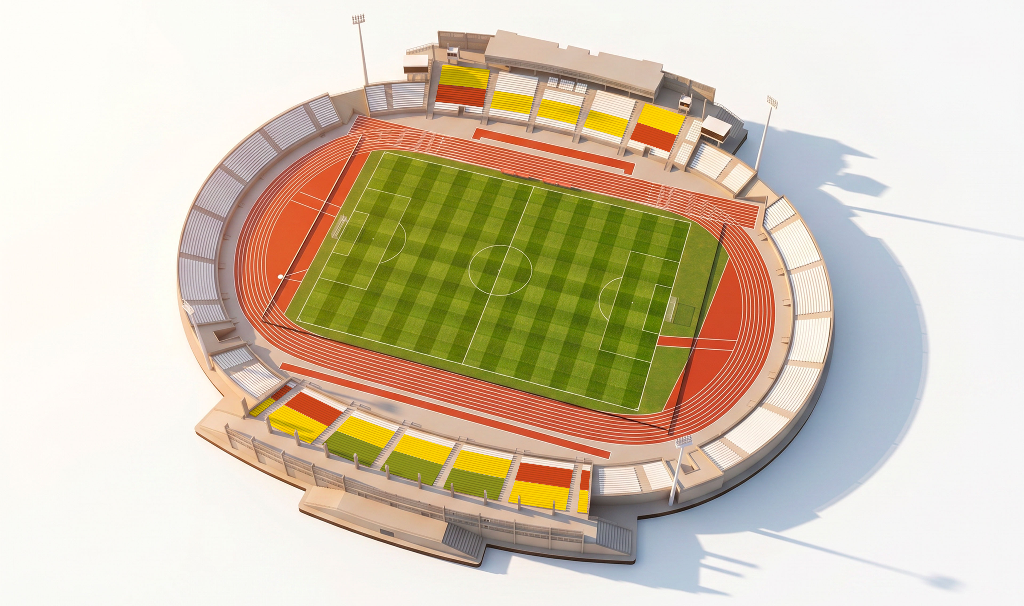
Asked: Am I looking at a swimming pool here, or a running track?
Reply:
running track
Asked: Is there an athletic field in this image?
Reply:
Yes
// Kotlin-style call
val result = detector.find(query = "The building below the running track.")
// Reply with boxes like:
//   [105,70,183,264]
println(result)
[308,491,481,558]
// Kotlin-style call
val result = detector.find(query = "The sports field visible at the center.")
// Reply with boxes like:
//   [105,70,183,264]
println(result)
[297,151,691,410]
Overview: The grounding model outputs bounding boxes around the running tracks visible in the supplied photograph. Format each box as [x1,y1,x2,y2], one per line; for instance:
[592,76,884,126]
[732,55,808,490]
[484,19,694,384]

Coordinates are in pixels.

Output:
[233,122,776,445]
